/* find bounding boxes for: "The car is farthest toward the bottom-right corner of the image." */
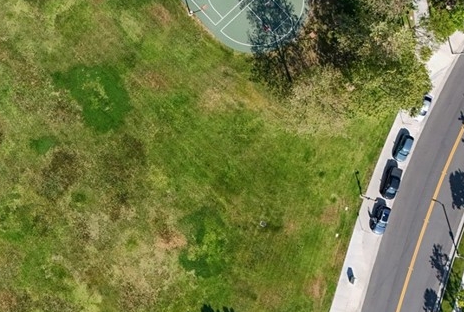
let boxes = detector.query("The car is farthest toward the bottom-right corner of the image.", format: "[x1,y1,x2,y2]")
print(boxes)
[373,205,392,234]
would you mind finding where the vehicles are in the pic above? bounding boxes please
[393,133,414,162]
[381,165,404,200]
[373,205,392,234]
[411,92,434,122]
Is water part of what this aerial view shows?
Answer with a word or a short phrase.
No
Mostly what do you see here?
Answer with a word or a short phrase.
grass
